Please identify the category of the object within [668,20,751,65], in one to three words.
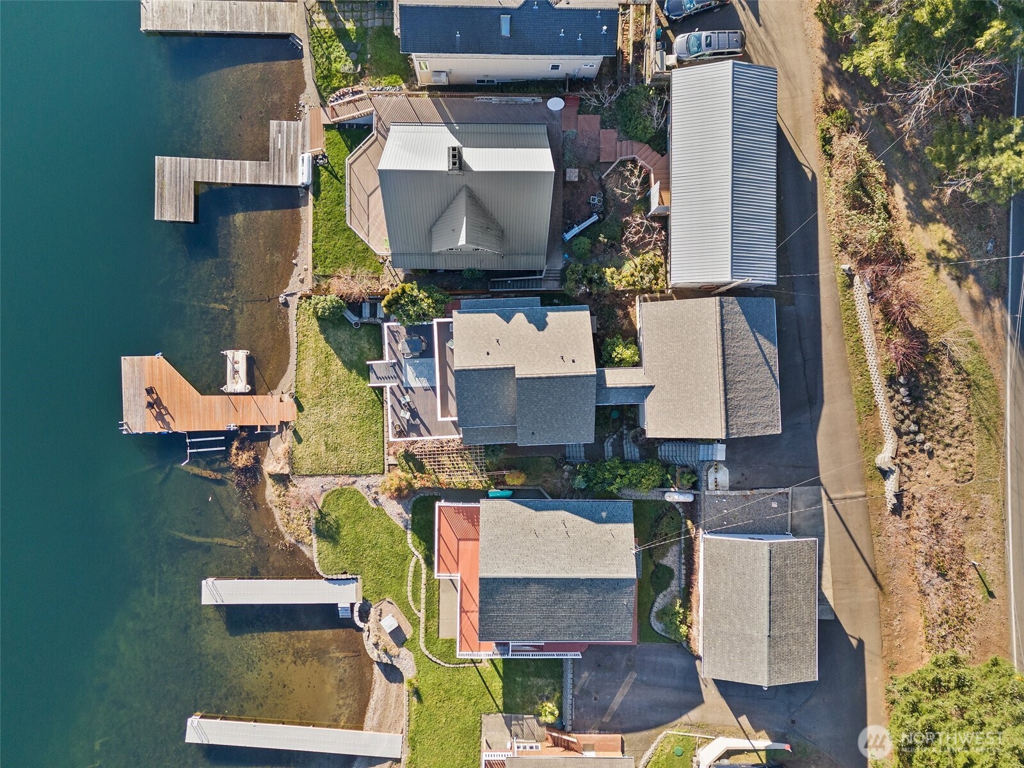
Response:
vehicle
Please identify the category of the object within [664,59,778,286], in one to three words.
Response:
building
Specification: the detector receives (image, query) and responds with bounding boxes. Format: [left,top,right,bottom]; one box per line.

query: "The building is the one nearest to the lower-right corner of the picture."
[695,530,819,691]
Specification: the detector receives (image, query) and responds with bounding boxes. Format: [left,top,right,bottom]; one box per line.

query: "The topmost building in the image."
[398,0,633,96]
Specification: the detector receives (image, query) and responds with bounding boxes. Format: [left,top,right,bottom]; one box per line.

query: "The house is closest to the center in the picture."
[453,295,597,448]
